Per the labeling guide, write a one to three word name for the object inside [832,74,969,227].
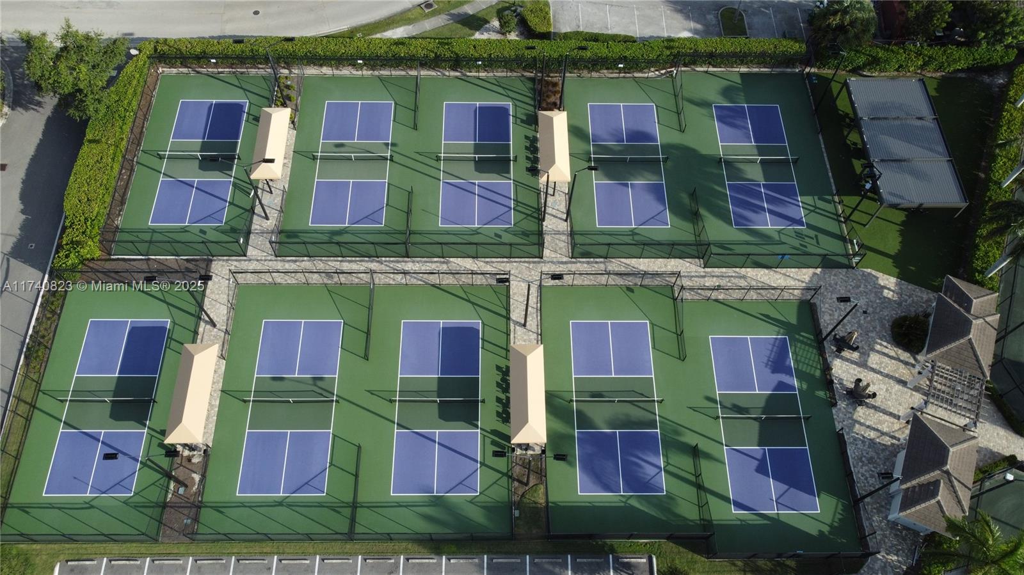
building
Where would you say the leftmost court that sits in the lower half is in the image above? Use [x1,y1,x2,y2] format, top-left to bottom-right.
[0,285,208,541]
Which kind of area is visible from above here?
sports ground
